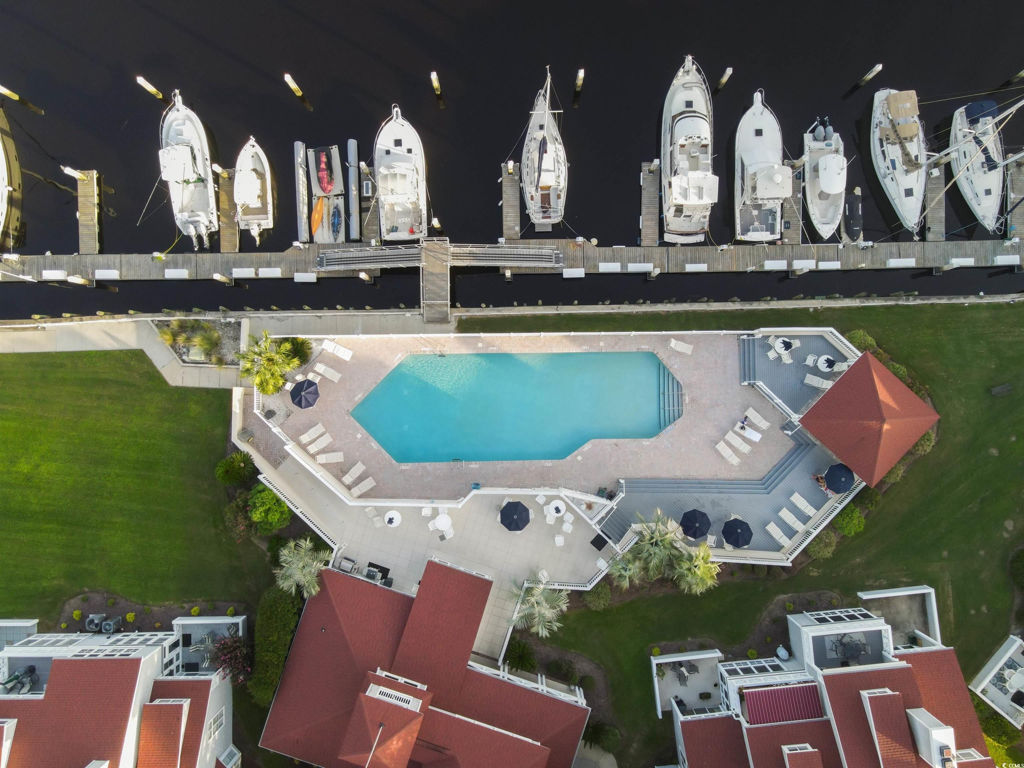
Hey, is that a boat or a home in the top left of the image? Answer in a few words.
boat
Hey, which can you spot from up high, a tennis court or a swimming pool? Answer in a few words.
swimming pool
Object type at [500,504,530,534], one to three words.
umbrella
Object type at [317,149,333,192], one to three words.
boat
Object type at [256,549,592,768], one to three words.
building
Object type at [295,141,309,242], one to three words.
pier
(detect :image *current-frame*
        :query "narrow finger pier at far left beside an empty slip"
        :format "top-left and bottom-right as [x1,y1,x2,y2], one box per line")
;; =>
[76,171,101,254]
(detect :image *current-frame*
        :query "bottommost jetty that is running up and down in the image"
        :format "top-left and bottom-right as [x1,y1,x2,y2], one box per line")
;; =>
[422,238,452,323]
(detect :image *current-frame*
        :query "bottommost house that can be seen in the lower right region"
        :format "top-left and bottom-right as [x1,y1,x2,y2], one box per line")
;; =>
[666,606,994,768]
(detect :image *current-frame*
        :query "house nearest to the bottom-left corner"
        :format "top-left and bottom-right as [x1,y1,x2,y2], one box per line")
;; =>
[0,634,240,768]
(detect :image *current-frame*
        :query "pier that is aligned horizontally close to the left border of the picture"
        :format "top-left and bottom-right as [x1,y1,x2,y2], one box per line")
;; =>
[0,243,381,283]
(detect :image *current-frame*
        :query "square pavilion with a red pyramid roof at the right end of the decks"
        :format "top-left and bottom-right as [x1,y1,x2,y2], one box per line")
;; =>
[789,351,940,488]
